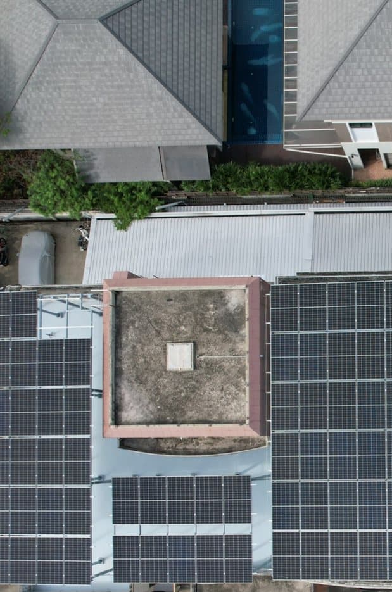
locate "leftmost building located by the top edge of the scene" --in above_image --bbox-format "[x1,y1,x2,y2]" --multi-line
[0,0,225,156]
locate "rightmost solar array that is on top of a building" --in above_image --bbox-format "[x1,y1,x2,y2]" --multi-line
[266,282,392,580]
